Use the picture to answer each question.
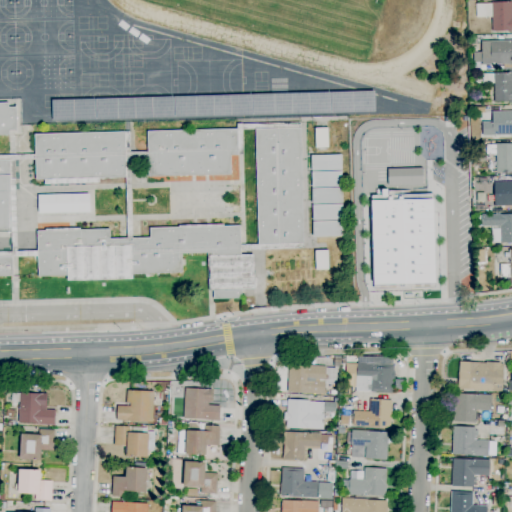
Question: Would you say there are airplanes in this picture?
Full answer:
No, the scene contains no airplane.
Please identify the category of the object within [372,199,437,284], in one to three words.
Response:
building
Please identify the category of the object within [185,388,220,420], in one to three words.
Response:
house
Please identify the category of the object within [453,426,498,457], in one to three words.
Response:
house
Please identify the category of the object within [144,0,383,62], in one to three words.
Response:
sports field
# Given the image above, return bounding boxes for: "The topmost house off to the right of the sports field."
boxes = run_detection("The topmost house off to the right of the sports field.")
[477,1,512,30]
